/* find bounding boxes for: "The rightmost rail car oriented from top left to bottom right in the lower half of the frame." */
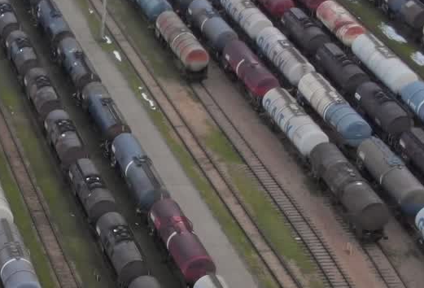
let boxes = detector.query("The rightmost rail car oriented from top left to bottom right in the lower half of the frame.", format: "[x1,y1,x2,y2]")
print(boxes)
[347,135,424,234]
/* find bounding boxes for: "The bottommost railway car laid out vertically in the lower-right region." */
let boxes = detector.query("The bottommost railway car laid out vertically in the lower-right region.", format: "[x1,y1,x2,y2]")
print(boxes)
[403,207,424,257]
